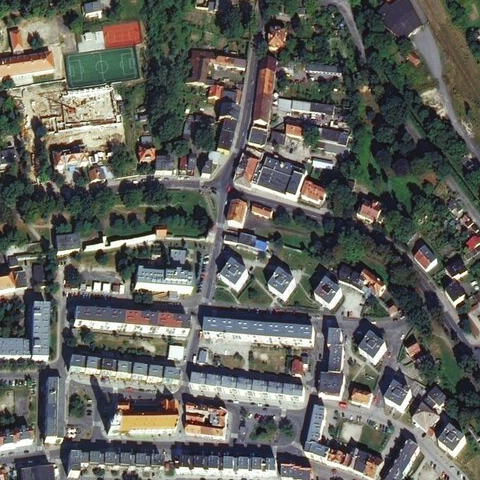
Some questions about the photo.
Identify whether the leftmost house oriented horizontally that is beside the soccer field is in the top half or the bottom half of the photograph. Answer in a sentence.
The leftmost house oriented horizontally that is beside the soccer field is in the top half of the image.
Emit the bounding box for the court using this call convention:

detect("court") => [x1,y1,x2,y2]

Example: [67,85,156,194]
[103,21,142,49]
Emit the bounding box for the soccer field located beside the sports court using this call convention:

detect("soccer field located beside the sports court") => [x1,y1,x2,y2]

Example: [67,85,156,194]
[65,46,139,89]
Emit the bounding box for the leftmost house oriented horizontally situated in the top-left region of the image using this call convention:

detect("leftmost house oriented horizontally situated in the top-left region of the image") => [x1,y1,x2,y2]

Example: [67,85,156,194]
[0,52,54,81]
